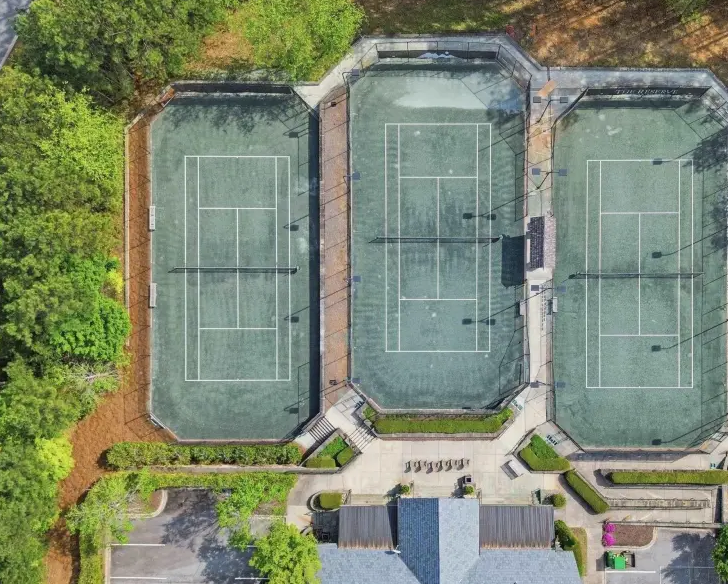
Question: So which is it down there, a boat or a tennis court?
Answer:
tennis court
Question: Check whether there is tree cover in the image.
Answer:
Yes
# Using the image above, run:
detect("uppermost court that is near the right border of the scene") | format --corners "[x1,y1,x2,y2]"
[553,97,728,447]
